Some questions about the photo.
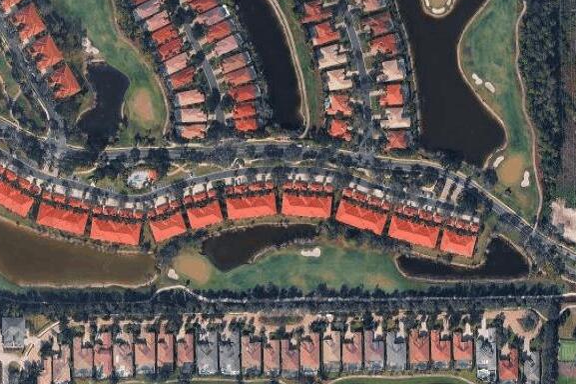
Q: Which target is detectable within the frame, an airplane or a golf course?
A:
golf course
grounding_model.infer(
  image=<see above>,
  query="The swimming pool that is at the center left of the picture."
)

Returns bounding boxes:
[127,169,150,187]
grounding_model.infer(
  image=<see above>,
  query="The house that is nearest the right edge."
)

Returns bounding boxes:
[524,351,542,384]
